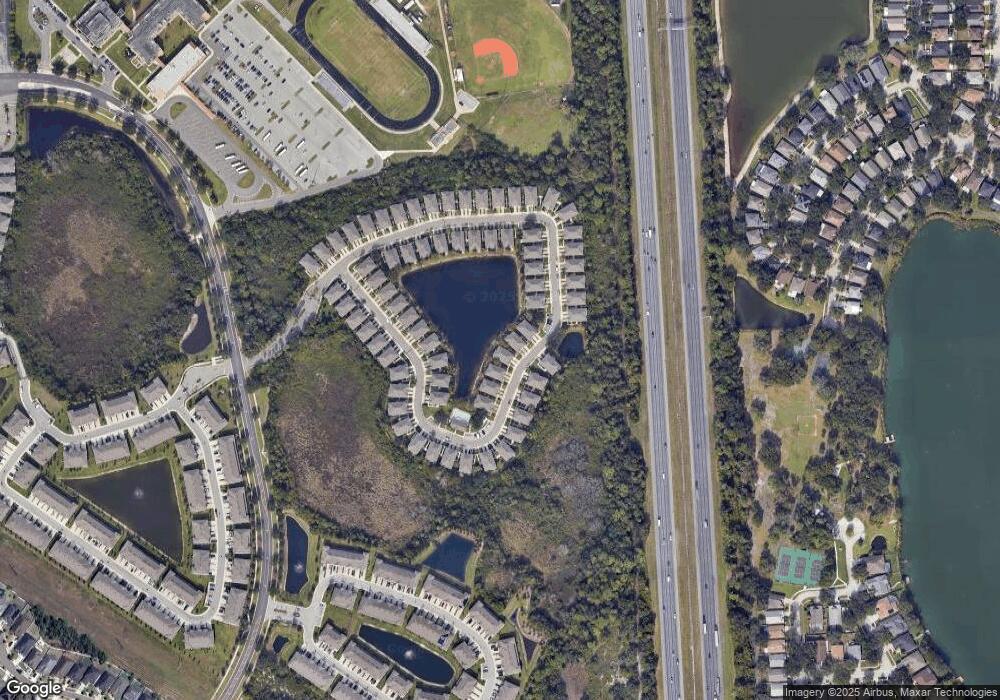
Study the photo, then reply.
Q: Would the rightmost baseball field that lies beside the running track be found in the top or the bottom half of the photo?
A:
top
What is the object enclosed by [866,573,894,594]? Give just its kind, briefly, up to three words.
house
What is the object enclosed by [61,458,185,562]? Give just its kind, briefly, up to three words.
pond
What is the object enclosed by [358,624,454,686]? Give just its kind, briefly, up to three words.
pond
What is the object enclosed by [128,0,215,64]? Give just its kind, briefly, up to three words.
building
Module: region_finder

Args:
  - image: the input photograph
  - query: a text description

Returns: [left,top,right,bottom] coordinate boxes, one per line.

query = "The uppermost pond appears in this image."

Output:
[26,106,186,229]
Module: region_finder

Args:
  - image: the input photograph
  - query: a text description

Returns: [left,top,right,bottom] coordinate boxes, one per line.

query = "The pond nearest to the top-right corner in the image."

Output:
[735,277,812,329]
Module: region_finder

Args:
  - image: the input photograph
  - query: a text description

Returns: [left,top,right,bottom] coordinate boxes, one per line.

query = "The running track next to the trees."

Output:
[291,0,445,136]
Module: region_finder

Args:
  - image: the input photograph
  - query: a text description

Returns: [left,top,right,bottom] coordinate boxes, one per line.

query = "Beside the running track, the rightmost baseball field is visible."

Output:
[473,0,573,84]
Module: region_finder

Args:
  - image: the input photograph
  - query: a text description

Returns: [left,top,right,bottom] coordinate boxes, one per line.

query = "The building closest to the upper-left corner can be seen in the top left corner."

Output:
[73,0,123,47]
